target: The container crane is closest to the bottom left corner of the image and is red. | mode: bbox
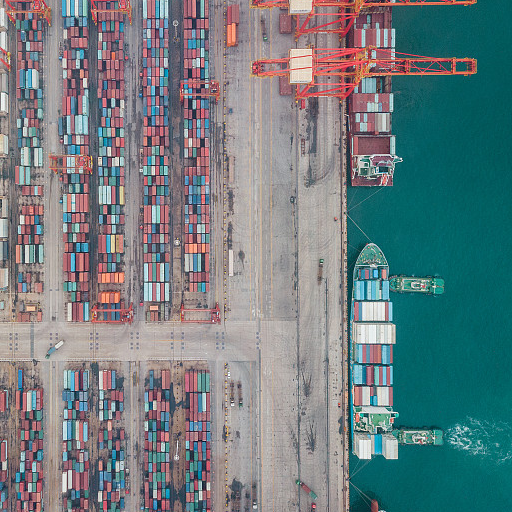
[91,301,134,323]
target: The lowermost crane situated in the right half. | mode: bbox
[251,42,478,106]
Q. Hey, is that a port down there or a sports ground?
port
